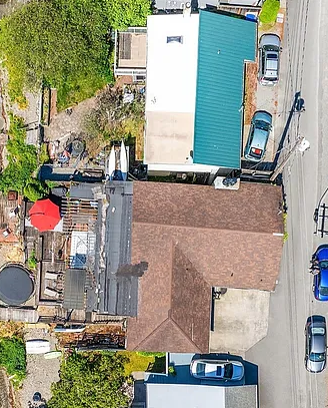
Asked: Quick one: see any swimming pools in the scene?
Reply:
No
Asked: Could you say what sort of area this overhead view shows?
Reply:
residential area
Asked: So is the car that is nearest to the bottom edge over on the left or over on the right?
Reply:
right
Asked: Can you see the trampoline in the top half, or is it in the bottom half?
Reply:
bottom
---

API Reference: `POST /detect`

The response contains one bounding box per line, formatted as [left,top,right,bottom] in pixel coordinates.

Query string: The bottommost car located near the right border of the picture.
[302,316,328,372]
